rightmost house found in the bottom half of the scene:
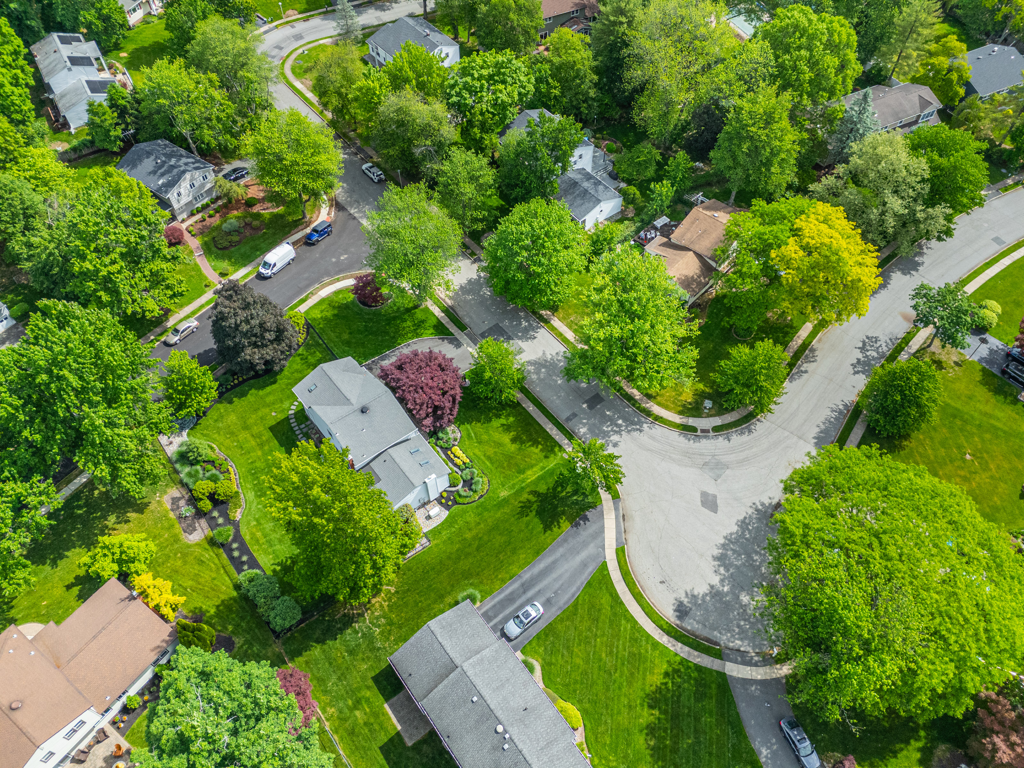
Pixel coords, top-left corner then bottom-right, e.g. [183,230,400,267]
[386,599,605,768]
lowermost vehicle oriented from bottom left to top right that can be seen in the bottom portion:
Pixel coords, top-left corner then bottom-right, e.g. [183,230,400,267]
[502,602,545,642]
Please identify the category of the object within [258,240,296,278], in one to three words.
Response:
van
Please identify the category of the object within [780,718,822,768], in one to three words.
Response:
car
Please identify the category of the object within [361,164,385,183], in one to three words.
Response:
car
